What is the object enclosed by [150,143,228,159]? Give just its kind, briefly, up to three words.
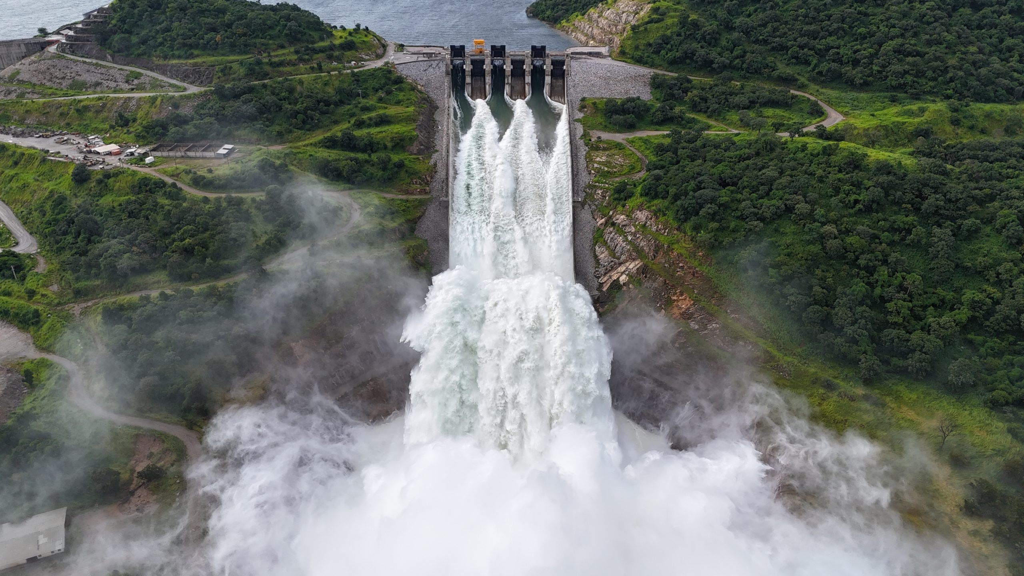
building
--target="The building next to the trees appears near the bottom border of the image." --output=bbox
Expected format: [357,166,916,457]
[0,507,70,571]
